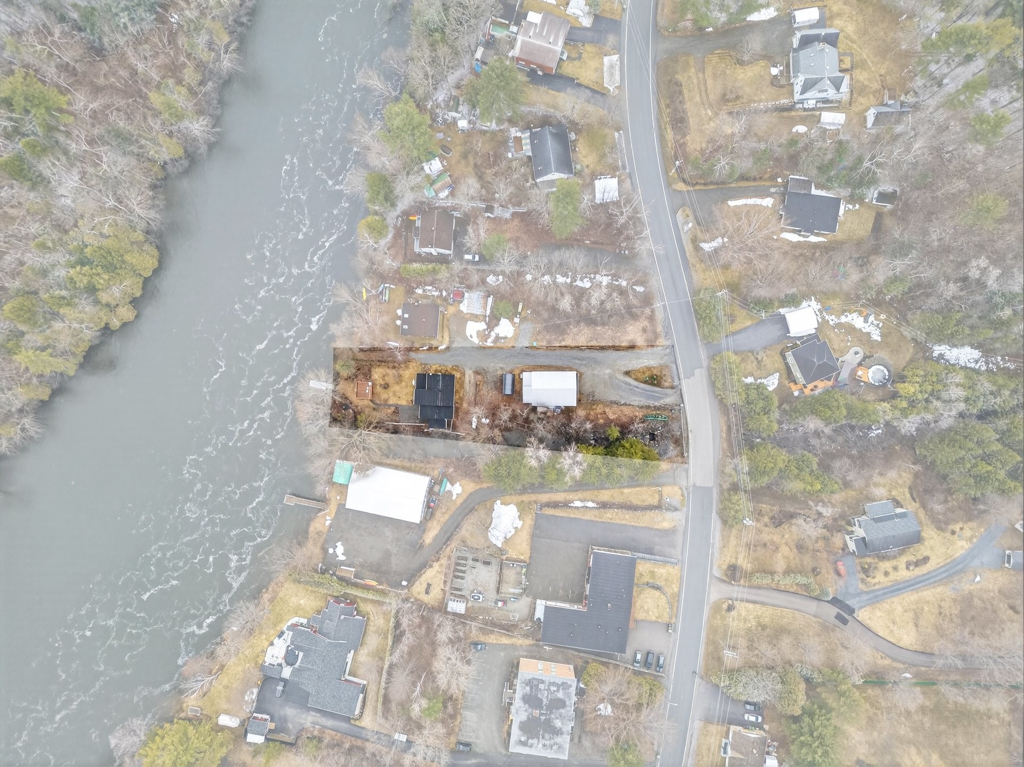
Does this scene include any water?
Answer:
Yes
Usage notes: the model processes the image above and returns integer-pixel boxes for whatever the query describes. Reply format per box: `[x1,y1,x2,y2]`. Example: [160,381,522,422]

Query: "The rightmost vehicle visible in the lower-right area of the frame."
[836,562,848,578]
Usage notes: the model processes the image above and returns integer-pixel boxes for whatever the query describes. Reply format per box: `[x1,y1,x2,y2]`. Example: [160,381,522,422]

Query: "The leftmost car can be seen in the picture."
[273,680,285,699]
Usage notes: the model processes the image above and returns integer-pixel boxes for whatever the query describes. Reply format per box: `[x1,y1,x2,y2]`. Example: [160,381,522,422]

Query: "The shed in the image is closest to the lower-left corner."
[246,712,273,744]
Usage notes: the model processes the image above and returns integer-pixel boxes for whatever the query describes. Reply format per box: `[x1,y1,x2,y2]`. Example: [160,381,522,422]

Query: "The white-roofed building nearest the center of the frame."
[521,371,577,411]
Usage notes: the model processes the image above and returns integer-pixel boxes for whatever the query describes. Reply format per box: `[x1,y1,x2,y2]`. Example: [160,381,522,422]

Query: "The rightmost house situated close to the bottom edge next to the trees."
[720,727,767,767]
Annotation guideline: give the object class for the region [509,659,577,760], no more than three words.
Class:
building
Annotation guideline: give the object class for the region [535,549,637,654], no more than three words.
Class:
building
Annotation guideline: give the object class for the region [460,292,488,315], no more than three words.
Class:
shed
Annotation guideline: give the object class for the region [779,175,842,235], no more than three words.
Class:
house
